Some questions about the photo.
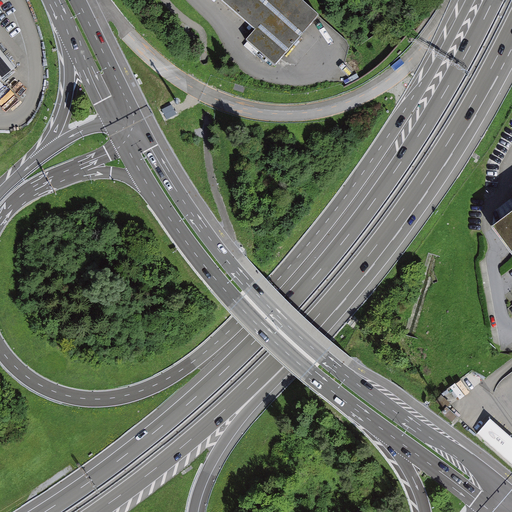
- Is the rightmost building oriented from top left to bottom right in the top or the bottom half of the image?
bottom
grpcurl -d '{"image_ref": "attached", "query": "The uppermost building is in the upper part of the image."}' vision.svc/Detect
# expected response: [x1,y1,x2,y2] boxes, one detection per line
[221,0,318,64]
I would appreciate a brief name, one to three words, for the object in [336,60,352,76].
vehicle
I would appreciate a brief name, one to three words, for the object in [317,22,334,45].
vehicle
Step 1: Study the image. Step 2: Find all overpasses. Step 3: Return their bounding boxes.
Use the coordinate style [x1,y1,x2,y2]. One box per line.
[230,273,334,382]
